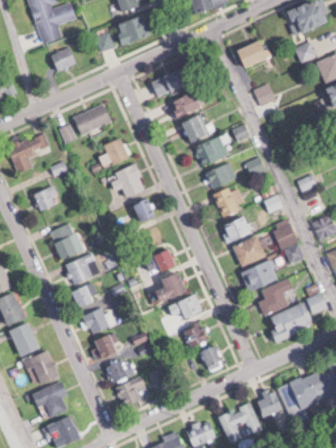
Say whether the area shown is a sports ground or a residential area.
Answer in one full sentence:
What you see here is a residential area.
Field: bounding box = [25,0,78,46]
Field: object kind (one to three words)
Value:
house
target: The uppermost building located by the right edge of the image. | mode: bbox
[288,0,331,34]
